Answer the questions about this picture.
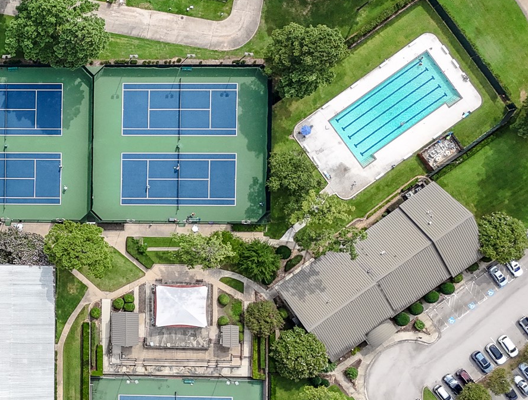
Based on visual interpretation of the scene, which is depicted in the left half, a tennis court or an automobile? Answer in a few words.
tennis court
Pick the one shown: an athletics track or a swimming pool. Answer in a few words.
swimming pool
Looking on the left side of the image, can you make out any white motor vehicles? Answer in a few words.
No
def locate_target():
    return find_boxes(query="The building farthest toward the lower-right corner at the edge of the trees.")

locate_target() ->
[275,182,482,360]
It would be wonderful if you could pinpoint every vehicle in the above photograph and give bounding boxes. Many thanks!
[517,314,528,337]
[442,373,463,395]
[488,265,507,287]
[471,350,490,373]
[485,343,504,364]
[517,362,528,382]
[497,335,517,357]
[504,258,523,280]
[433,383,451,400]
[504,386,518,400]
[513,374,528,396]
[454,365,473,387]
